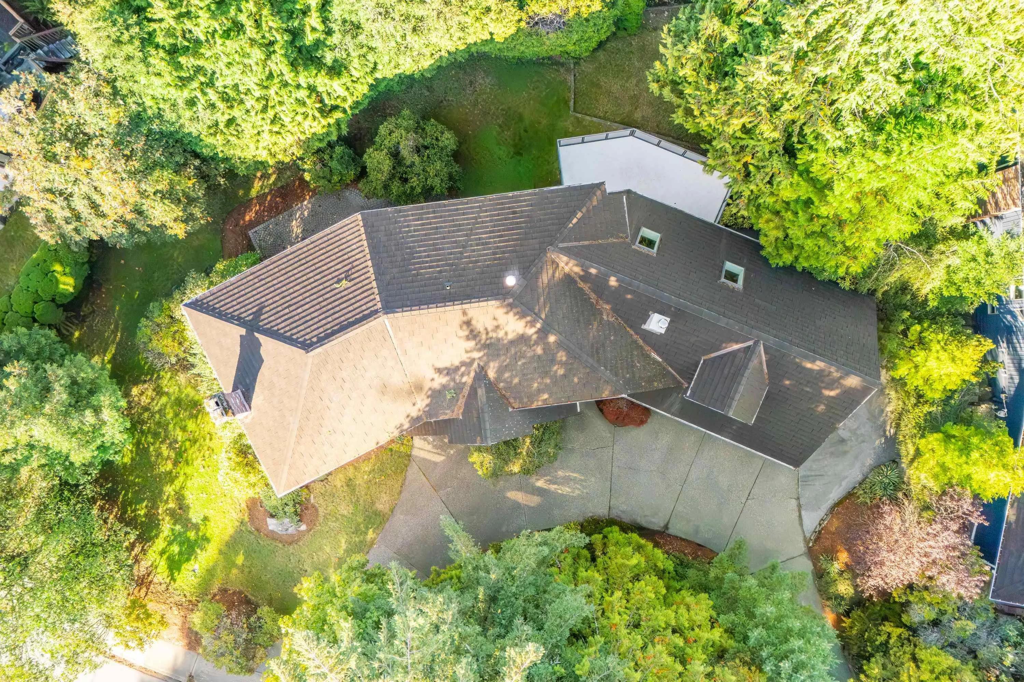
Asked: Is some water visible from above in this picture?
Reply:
No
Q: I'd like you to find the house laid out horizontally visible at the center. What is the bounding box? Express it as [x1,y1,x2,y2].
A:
[179,180,879,499]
